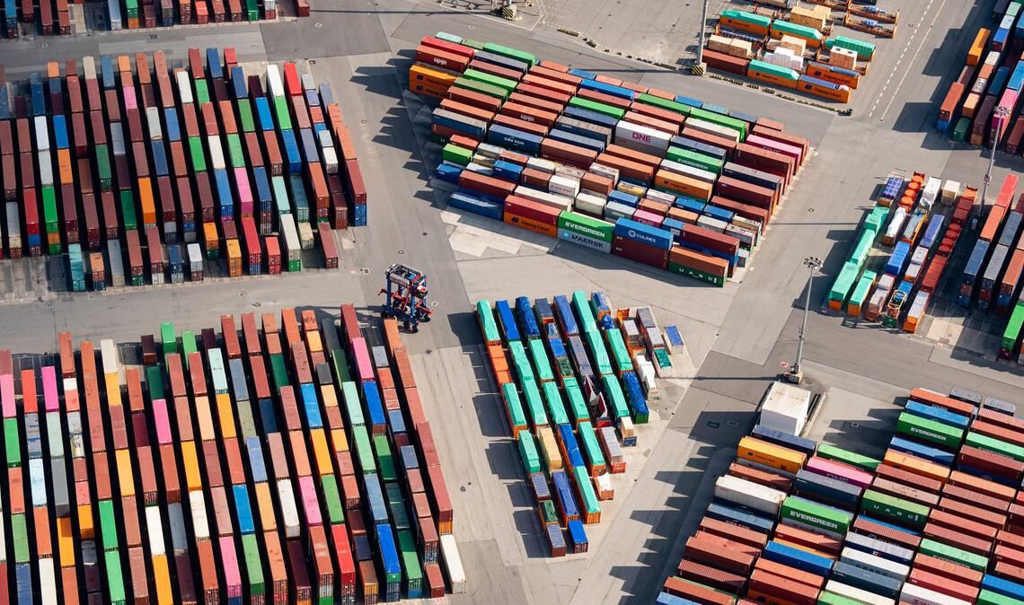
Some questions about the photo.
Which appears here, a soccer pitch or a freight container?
freight container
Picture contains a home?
No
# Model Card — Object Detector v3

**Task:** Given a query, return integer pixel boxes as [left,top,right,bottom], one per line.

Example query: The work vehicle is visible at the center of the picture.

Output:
[379,265,435,332]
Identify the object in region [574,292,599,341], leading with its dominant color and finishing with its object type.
green shipping container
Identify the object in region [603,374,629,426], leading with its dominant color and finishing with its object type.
green shipping container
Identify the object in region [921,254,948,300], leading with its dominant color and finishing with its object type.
red shipping container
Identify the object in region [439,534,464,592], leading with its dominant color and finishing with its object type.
white shipping container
